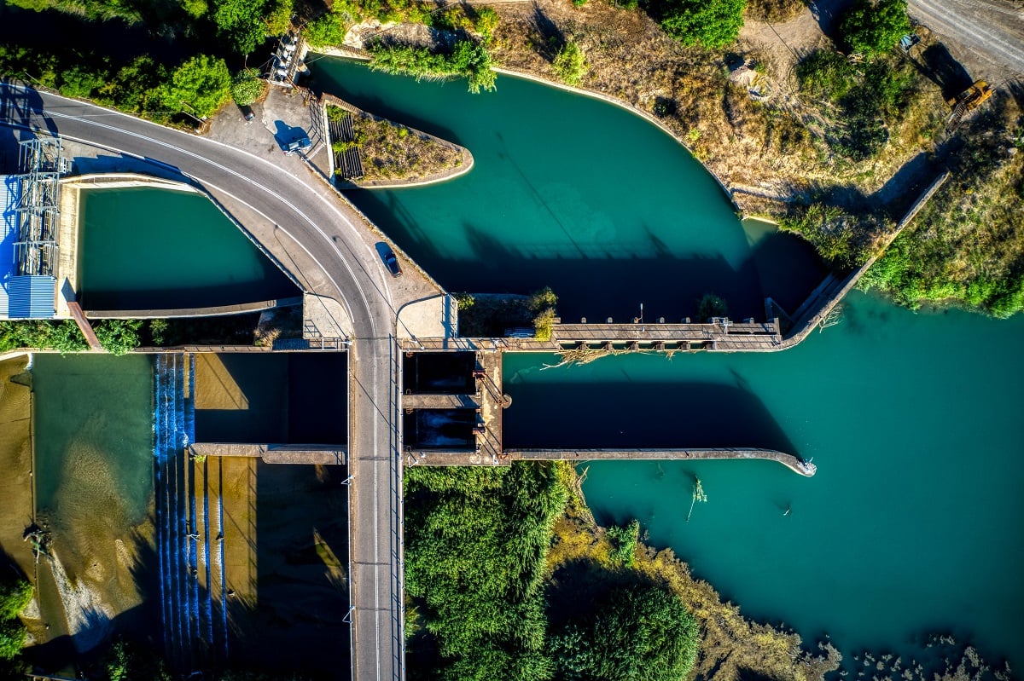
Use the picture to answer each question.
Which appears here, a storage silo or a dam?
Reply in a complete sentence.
There is a dam in the scene.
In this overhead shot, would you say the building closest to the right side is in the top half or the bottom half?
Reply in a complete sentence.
It is in the top half that the building closest to the right side appears.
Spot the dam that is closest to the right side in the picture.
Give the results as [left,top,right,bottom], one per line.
[551,317,780,352]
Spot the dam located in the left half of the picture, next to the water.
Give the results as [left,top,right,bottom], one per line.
[156,351,406,681]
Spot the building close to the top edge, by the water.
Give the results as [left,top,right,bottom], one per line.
[262,30,321,91]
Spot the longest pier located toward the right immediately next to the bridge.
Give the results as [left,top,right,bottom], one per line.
[502,446,815,477]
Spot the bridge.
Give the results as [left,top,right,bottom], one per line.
[347,339,411,681]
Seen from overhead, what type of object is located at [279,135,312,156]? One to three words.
car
